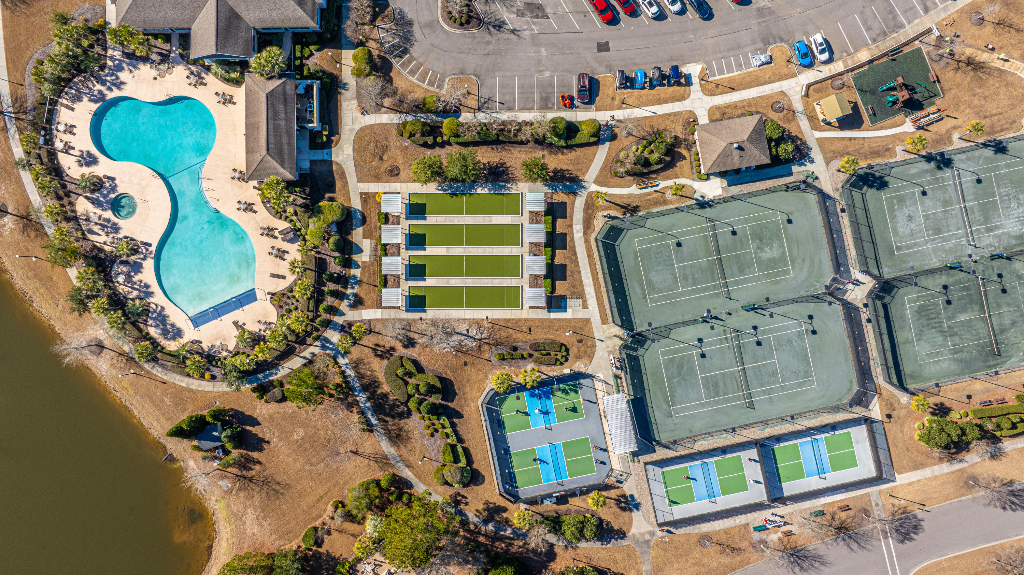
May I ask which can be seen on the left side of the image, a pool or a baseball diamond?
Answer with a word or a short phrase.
pool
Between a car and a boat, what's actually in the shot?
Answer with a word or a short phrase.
car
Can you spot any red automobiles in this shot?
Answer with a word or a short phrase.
Yes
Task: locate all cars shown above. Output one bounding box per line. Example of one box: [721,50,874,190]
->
[588,0,611,23]
[637,0,660,19]
[577,72,591,103]
[663,0,681,15]
[616,0,635,16]
[686,0,708,20]
[792,39,811,67]
[808,31,828,62]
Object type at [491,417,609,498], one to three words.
sports court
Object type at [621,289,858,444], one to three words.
tennis court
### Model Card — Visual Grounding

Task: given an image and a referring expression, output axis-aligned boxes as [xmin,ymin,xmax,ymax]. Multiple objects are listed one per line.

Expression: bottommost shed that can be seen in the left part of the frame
[197,423,225,451]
